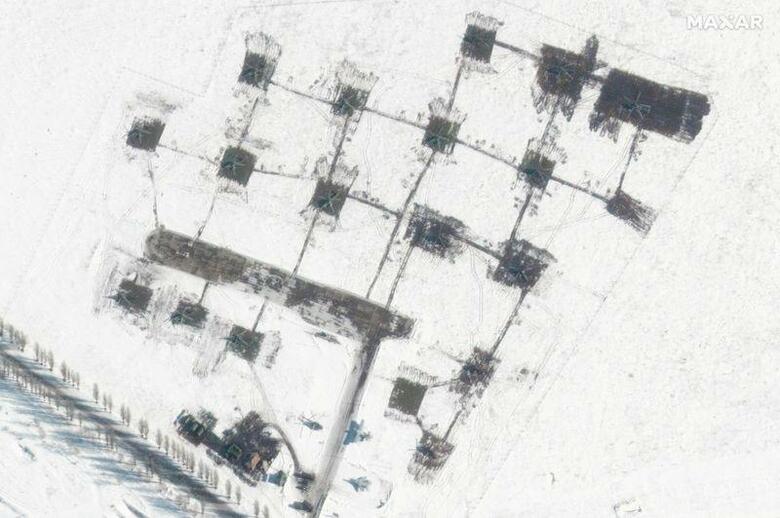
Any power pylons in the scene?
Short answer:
No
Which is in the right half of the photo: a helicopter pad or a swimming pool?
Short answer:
helicopter pad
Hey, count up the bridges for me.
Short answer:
none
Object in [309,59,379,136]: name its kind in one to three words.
helipad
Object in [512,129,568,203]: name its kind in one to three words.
helipad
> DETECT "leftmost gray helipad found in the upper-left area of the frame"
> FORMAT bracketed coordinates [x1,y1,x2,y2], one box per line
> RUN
[126,116,167,152]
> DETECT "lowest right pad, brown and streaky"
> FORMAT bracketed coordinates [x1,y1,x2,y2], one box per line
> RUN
[405,431,456,483]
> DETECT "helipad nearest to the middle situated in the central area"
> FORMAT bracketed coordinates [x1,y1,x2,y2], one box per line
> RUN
[403,200,471,265]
